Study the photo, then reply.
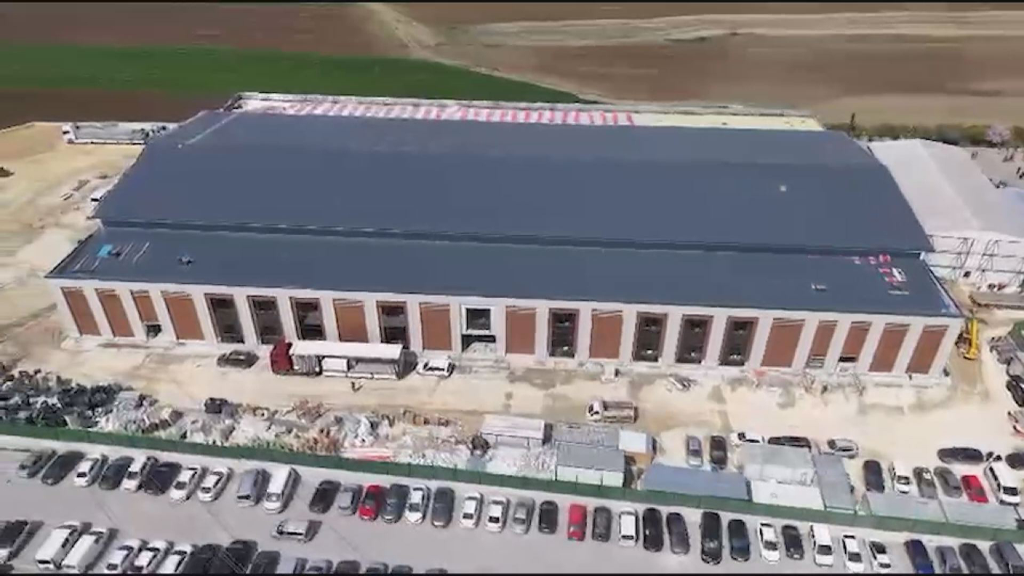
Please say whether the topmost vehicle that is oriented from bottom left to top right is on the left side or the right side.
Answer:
left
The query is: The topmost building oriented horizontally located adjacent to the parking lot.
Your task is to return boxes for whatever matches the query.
[42,94,972,394]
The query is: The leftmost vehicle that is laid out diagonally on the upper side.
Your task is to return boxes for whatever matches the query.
[84,187,114,208]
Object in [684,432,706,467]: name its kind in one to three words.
car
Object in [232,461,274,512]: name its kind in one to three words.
vehicle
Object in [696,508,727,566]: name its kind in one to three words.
vehicle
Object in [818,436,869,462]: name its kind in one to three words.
car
